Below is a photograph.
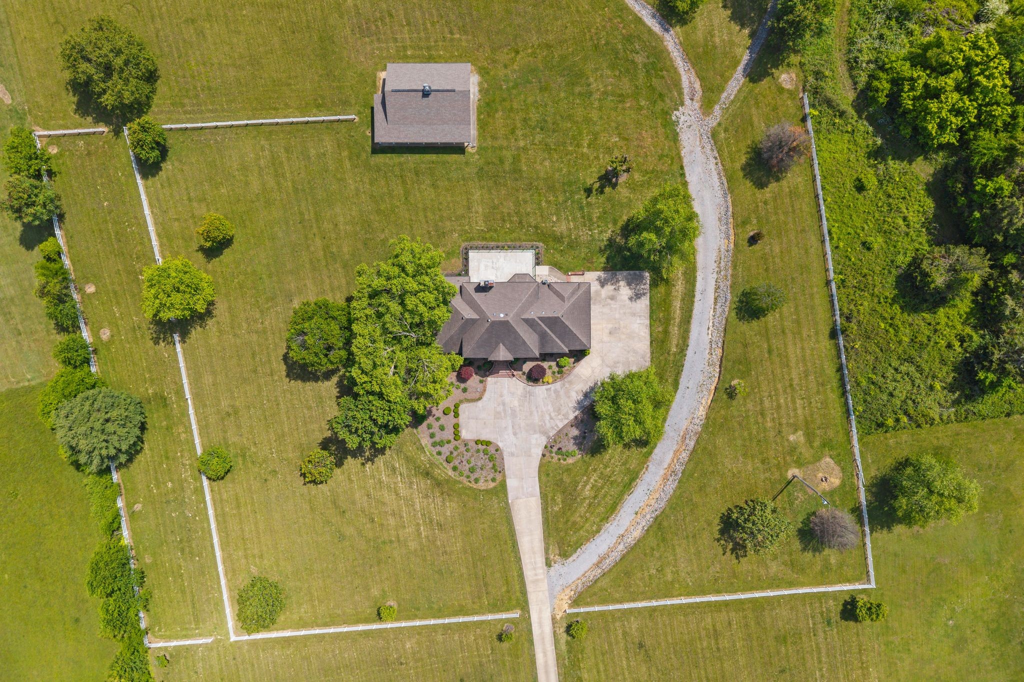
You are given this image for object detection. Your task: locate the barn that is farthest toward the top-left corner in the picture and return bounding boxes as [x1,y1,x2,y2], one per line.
[374,62,474,152]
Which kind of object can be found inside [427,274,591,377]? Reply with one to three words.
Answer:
house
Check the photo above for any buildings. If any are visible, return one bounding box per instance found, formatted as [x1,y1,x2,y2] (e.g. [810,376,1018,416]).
[374,62,474,152]
[427,274,591,377]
